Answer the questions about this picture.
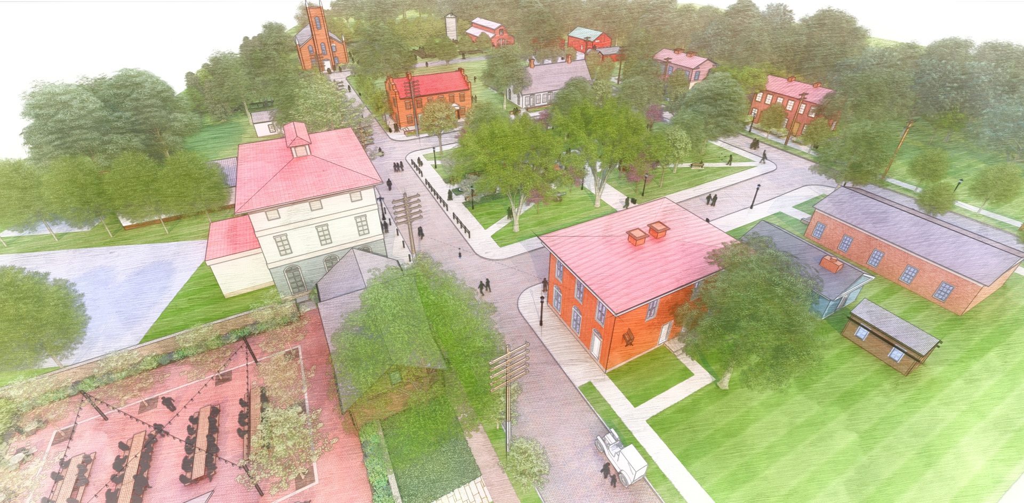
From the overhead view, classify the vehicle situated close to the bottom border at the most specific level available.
automobile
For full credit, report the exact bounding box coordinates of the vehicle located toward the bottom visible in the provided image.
[595,431,651,492]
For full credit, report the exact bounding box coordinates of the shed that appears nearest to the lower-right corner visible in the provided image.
[842,291,955,376]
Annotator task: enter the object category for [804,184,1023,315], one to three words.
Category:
building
